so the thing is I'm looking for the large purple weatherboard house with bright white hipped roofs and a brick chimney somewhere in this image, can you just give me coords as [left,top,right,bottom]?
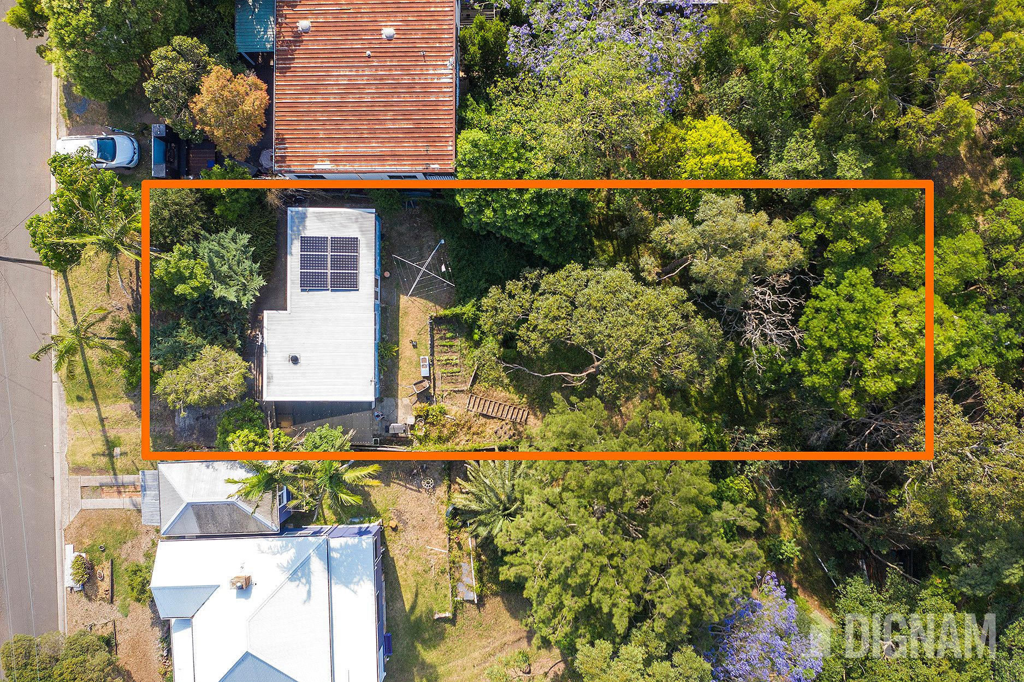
[150,520,389,682]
